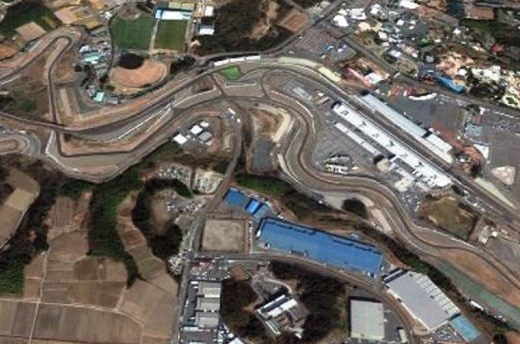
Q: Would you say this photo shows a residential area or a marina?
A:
residential area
